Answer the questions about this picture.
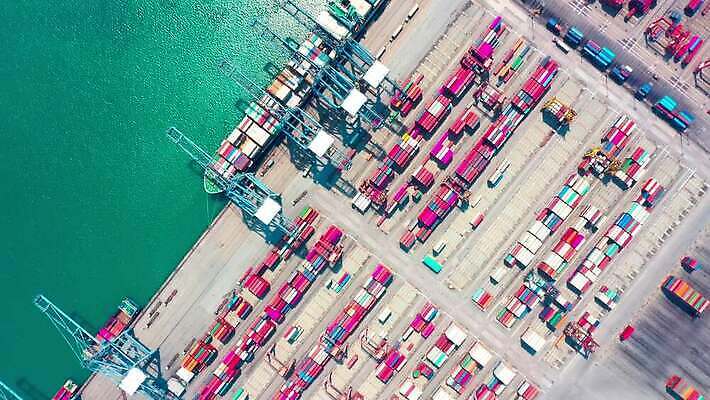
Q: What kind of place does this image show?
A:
port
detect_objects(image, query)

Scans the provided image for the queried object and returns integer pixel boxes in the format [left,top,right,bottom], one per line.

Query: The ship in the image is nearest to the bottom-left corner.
[60,371,83,400]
